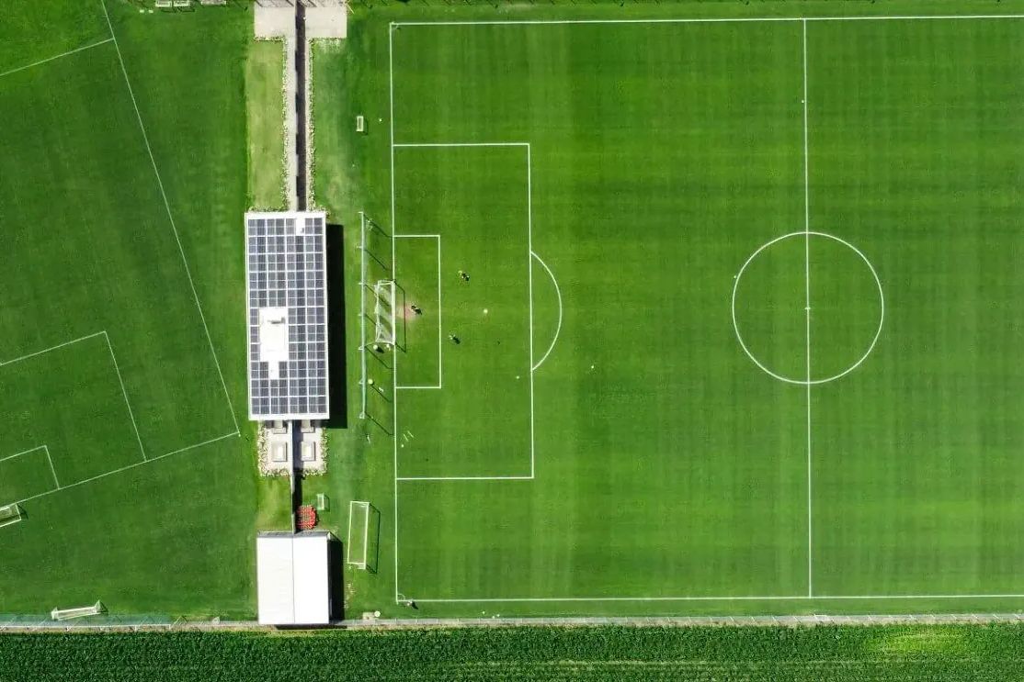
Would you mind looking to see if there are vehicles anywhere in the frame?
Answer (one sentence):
No, there's no vehicle here.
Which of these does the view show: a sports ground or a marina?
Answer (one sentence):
The area seen from above is a sports ground.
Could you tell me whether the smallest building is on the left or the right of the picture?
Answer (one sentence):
It is on the left.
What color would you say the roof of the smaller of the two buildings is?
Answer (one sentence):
From above, the roof of the smaller of the two buildings looks white.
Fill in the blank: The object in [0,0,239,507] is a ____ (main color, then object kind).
green sports field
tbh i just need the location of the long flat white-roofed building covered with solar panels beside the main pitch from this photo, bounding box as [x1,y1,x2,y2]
[245,211,333,421]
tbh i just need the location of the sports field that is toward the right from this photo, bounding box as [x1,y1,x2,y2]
[390,15,1024,603]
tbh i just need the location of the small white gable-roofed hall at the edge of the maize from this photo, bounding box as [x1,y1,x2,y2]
[258,533,332,626]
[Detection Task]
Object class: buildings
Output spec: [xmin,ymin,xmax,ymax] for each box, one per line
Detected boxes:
[258,533,332,626]
[245,211,333,421]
